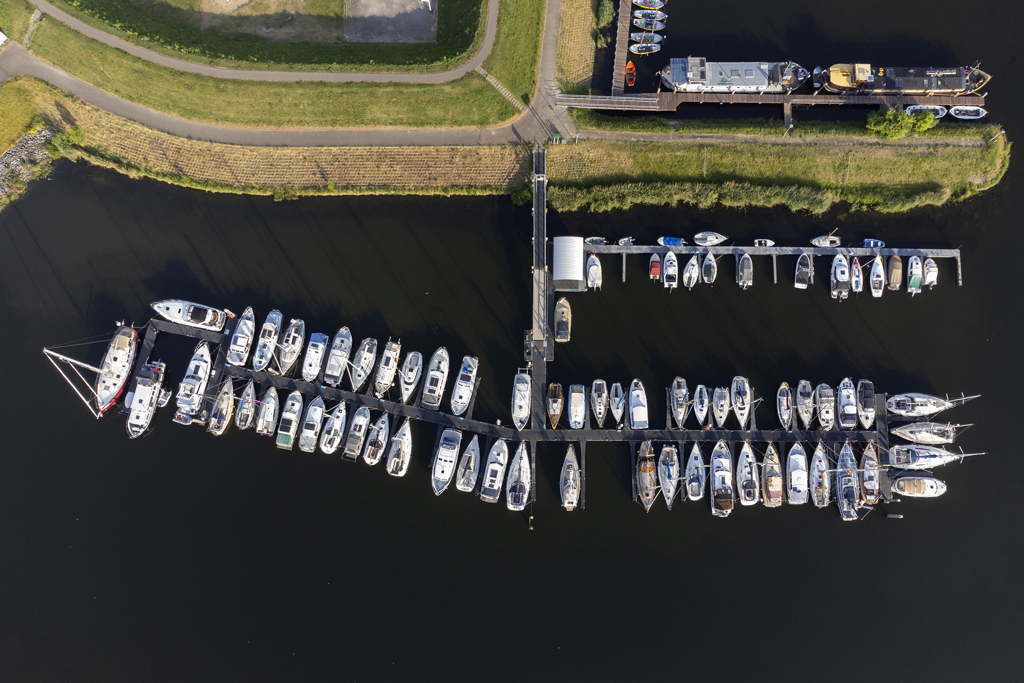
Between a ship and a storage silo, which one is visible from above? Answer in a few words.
ship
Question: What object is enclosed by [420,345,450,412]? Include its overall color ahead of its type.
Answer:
white boat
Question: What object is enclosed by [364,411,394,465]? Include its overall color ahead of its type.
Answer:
white boat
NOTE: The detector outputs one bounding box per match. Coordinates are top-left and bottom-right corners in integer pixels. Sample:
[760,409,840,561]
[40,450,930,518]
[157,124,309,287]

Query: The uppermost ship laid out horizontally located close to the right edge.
[819,57,995,95]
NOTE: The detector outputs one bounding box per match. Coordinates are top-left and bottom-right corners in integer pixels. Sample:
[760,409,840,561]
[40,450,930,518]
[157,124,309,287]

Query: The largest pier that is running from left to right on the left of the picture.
[224,366,522,441]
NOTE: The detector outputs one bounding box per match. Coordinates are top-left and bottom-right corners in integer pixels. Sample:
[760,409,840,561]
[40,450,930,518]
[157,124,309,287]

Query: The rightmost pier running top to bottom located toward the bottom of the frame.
[874,394,892,499]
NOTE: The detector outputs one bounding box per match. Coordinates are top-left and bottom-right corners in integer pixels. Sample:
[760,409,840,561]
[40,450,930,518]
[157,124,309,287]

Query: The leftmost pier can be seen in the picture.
[122,329,159,414]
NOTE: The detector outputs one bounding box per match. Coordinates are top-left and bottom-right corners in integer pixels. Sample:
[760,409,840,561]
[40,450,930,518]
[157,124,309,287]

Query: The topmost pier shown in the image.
[611,0,632,93]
